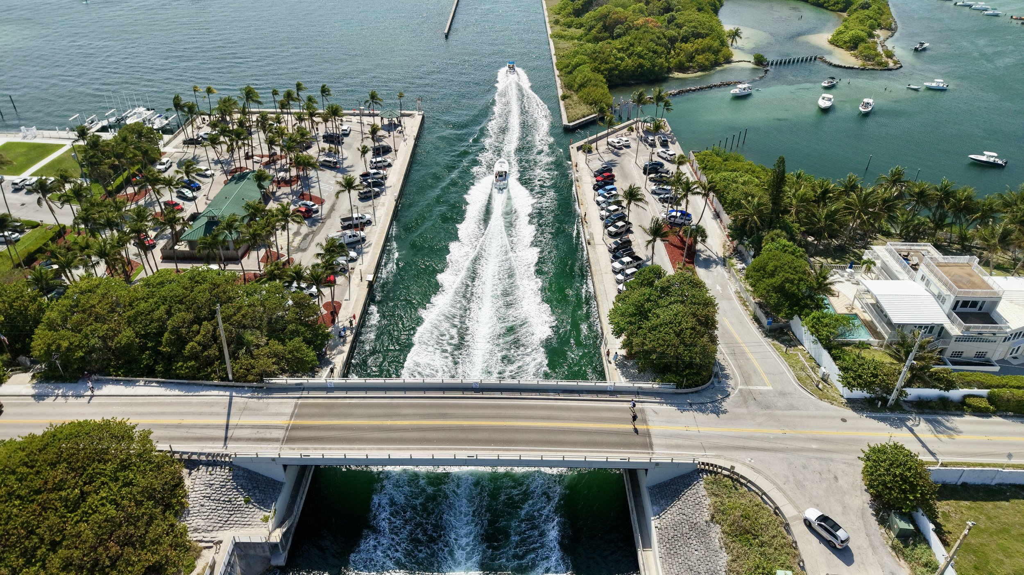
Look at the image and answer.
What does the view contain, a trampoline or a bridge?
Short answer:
bridge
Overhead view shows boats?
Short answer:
Yes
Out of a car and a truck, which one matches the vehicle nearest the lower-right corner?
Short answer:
car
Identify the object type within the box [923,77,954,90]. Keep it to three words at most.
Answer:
boat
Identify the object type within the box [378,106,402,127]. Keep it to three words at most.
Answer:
gazebo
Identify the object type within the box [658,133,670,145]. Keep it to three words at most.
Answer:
vehicle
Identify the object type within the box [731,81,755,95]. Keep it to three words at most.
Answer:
boat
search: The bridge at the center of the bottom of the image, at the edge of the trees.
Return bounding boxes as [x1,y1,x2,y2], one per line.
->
[234,377,697,496]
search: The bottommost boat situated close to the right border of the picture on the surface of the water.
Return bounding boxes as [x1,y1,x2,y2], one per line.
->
[962,142,1019,171]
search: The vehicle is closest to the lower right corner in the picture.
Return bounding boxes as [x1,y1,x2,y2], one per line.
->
[800,505,860,553]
